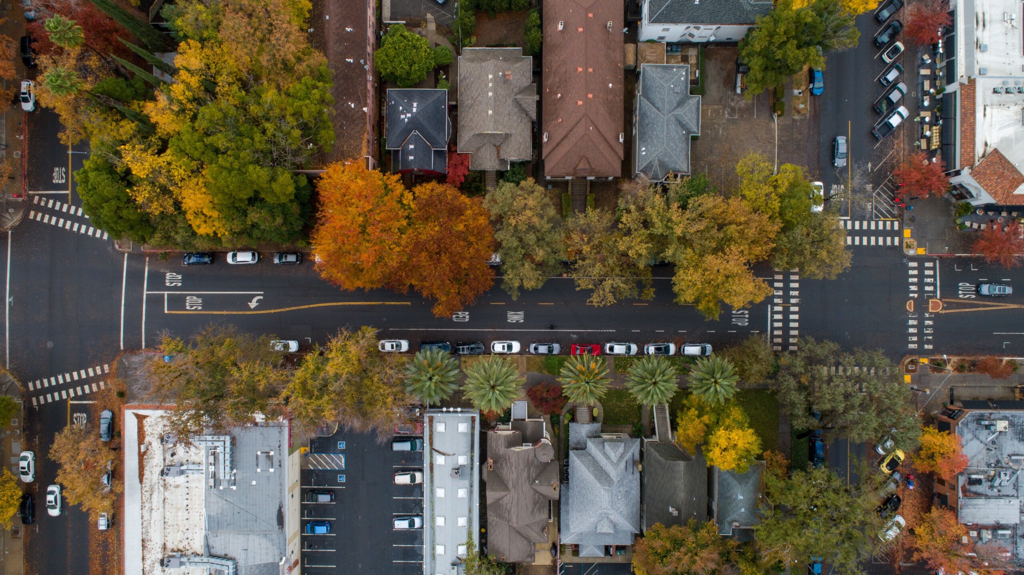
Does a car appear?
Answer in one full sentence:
Yes, the picture does show a car.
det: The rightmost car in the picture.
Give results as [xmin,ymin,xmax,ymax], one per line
[979,282,1012,297]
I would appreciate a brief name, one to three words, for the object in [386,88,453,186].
house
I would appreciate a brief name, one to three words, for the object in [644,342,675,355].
vehicle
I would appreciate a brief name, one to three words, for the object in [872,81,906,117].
truck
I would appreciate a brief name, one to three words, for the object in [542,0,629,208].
building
